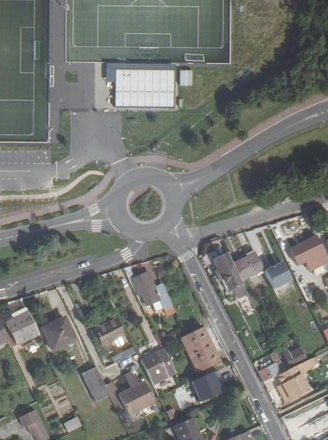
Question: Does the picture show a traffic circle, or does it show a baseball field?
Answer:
traffic circle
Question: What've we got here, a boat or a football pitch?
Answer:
football pitch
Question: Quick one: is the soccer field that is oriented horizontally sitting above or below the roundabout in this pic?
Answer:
above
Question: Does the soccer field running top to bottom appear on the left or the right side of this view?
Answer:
left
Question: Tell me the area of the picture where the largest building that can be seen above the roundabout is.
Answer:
top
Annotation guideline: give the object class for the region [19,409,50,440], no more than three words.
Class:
house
